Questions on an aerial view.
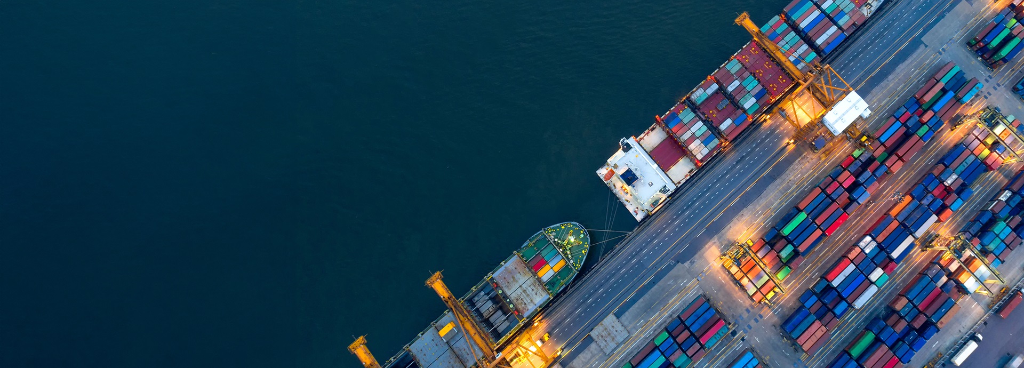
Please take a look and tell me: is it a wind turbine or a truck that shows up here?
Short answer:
truck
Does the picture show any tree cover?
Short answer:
No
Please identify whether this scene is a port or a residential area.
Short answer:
port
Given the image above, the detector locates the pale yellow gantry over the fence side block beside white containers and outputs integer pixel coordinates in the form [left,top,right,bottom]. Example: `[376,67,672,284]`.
[921,227,1007,296]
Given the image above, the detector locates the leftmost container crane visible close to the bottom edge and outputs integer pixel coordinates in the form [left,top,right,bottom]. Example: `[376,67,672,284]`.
[348,338,383,368]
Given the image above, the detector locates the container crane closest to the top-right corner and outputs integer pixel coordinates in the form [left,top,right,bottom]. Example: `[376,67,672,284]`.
[952,106,1024,172]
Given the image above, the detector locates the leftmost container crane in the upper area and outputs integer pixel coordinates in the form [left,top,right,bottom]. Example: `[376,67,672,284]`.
[732,7,878,156]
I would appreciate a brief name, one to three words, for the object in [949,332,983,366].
truck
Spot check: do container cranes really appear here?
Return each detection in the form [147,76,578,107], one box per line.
[921,227,1007,296]
[732,7,878,156]
[719,235,785,305]
[952,106,1024,172]
[425,272,570,368]
[348,338,383,368]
